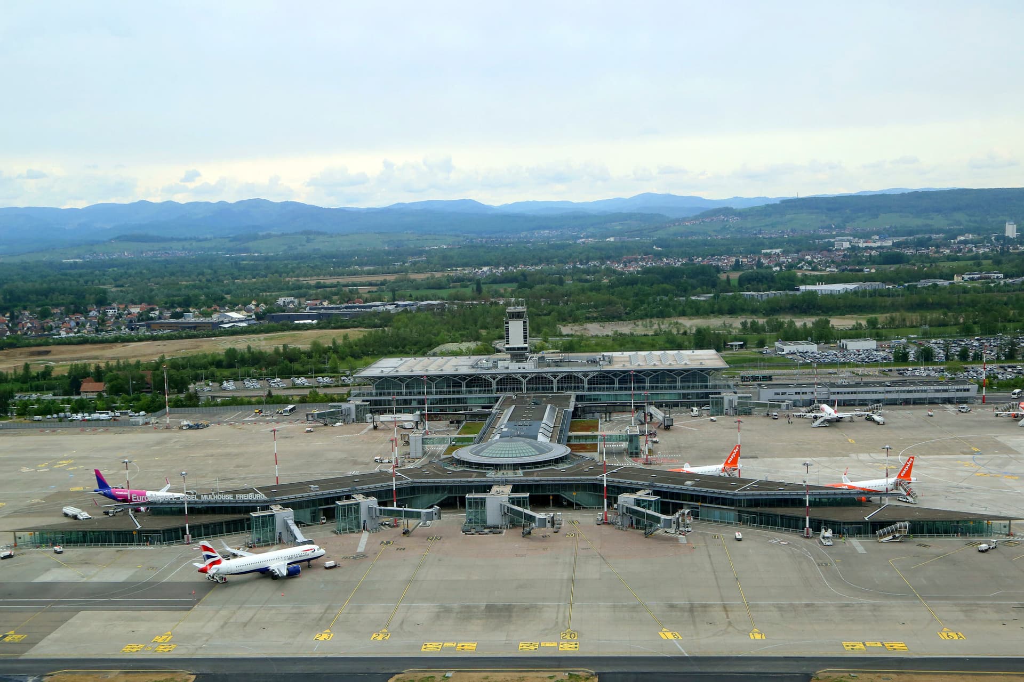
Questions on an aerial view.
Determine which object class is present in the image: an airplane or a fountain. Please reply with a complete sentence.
There is an airplane in the scene.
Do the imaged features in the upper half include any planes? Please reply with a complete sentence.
No, in the upper half there is no plane.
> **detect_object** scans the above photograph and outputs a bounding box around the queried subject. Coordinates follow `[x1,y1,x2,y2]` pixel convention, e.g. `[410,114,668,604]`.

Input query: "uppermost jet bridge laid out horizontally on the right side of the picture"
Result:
[733,398,795,417]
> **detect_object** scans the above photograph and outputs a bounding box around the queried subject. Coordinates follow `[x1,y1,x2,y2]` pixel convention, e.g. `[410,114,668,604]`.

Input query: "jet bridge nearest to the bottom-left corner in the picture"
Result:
[286,512,321,549]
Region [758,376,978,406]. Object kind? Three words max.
building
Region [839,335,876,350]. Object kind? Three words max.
shed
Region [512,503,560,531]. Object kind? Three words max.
jet bridge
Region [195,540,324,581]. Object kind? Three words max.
airplane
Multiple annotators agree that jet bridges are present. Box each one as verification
[733,398,795,417]
[305,407,345,423]
[618,500,690,534]
[286,512,321,549]
[370,504,442,533]
[646,403,671,427]
[512,503,560,531]
[367,411,419,427]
